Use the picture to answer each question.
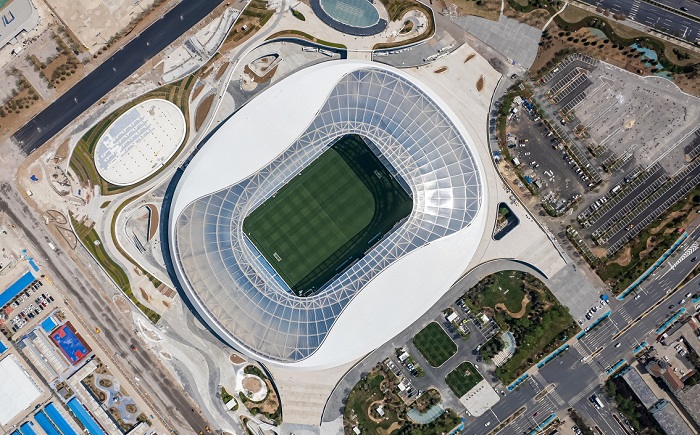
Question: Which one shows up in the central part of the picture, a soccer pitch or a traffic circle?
soccer pitch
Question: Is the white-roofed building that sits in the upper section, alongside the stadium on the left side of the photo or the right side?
left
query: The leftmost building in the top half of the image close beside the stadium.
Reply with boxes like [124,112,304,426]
[94,98,189,185]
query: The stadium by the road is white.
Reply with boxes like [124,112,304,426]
[167,59,489,367]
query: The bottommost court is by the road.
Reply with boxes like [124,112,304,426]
[49,321,91,365]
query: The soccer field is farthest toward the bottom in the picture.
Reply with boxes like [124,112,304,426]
[241,133,416,297]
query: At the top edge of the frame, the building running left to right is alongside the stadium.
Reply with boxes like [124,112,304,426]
[310,0,387,36]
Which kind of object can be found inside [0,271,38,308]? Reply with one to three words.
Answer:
shed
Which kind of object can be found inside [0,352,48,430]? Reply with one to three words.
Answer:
building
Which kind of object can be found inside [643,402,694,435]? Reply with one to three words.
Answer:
building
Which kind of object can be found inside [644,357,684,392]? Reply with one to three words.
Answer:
house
